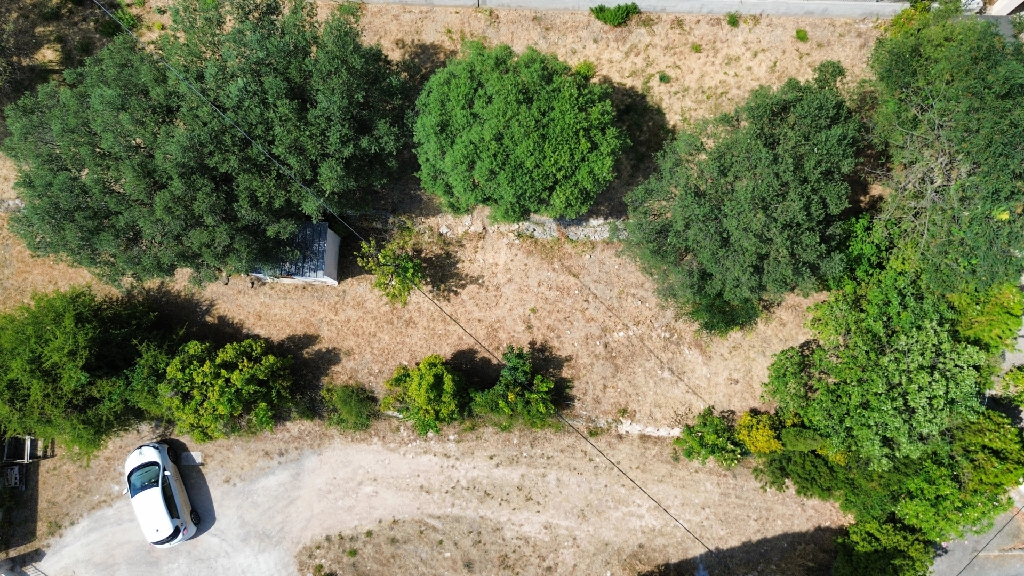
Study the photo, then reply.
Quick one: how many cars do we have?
1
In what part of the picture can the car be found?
bottom left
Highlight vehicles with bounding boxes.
[121,441,201,552]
